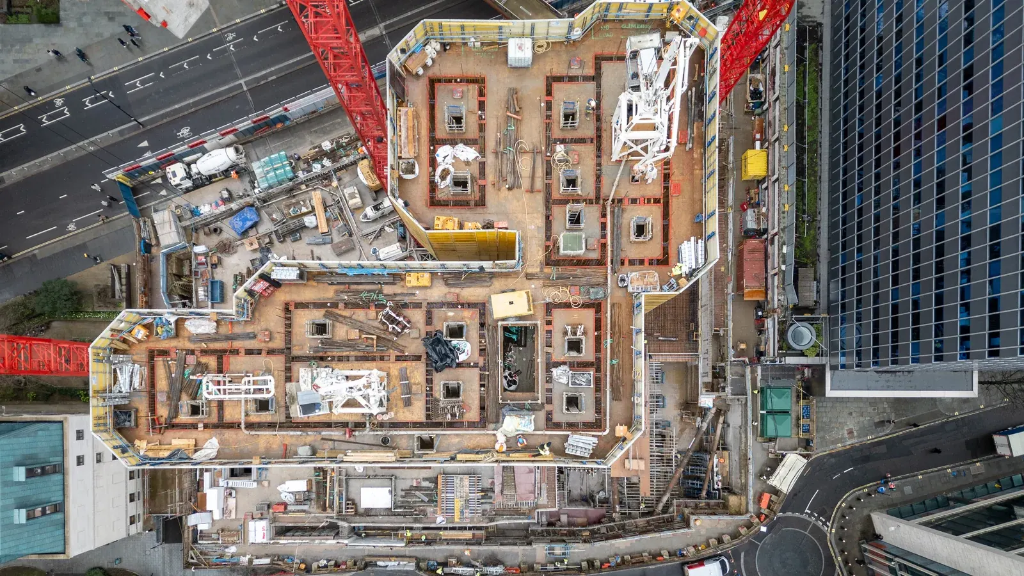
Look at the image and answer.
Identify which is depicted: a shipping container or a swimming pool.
shipping container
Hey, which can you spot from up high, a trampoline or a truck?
truck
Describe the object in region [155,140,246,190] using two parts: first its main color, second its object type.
white truck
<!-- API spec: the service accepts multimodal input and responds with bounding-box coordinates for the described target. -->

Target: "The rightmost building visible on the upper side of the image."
[831,0,1024,371]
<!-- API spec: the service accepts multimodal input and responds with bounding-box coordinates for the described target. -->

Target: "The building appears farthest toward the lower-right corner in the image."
[860,473,1024,576]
